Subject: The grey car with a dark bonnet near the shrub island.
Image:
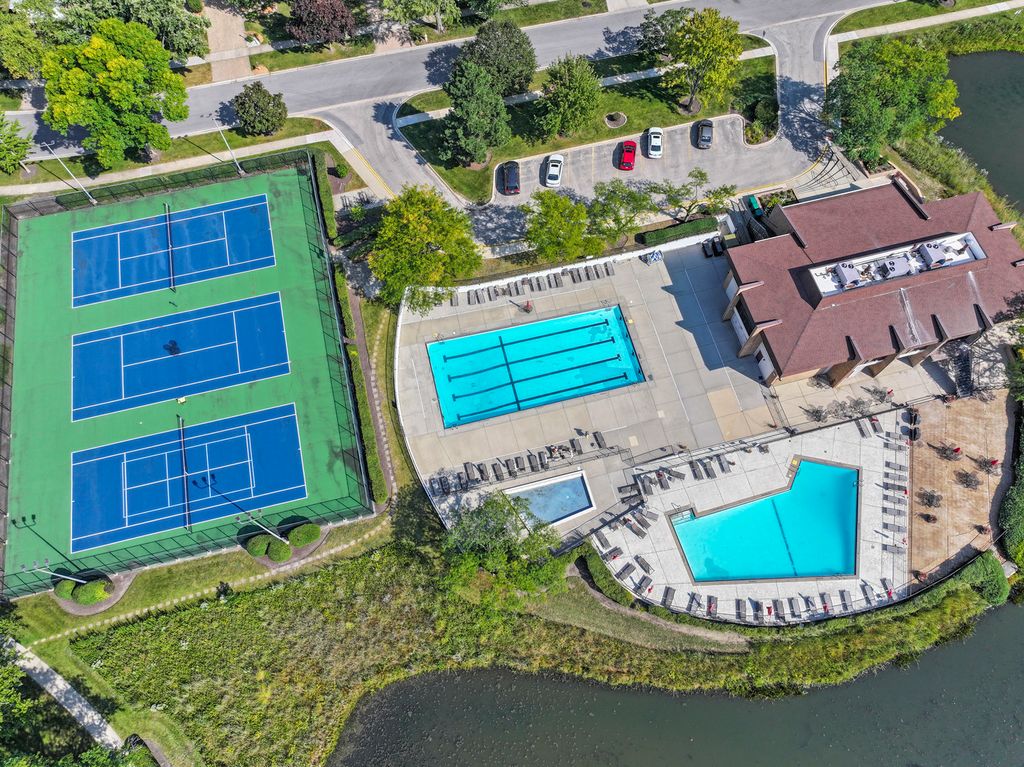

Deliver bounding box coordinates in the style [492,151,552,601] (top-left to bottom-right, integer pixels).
[696,118,715,150]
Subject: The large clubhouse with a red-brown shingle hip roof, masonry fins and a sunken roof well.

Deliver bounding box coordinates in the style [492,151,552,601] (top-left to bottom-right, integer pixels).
[722,176,1024,387]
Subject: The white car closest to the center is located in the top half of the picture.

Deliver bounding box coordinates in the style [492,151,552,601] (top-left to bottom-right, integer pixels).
[546,155,564,187]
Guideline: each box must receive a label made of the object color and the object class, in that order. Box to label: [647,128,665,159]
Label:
white car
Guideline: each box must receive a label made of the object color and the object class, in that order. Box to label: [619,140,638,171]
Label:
red car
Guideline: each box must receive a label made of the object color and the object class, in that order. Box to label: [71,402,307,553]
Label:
blue tennis court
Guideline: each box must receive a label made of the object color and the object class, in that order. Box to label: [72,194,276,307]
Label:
blue tennis court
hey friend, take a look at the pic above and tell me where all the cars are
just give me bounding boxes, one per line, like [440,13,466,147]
[546,155,564,187]
[696,118,715,150]
[647,128,665,159]
[619,140,638,171]
[503,162,521,194]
